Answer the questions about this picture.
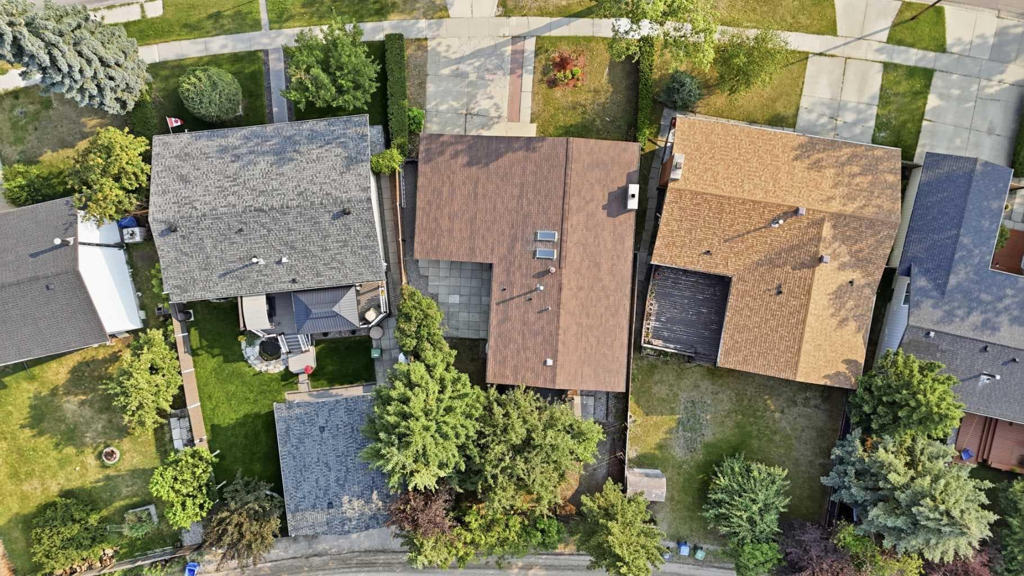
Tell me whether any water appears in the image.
No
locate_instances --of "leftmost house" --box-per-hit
[0,196,141,367]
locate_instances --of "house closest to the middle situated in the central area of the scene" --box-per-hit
[413,132,642,392]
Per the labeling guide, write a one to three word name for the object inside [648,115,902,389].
house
